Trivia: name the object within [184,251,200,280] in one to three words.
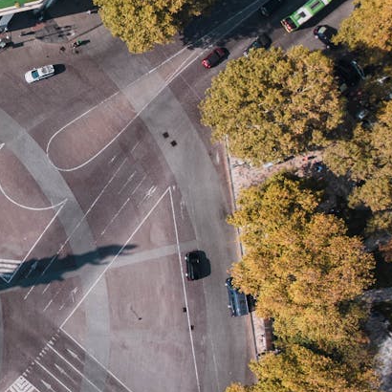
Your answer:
car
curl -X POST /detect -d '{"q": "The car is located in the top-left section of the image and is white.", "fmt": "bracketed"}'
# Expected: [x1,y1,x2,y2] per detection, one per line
[24,65,54,82]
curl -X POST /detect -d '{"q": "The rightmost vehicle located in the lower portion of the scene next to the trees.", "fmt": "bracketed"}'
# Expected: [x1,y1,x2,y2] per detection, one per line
[226,278,251,314]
